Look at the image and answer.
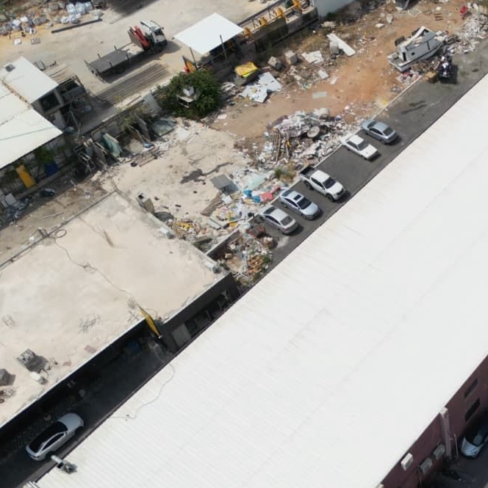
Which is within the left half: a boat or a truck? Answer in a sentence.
Looking within the left half, you will find a truck.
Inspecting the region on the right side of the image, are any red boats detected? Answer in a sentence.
No, looking on the right side of the image, there is no red boat.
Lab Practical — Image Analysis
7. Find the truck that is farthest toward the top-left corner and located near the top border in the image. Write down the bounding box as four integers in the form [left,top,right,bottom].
[85,21,171,73]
